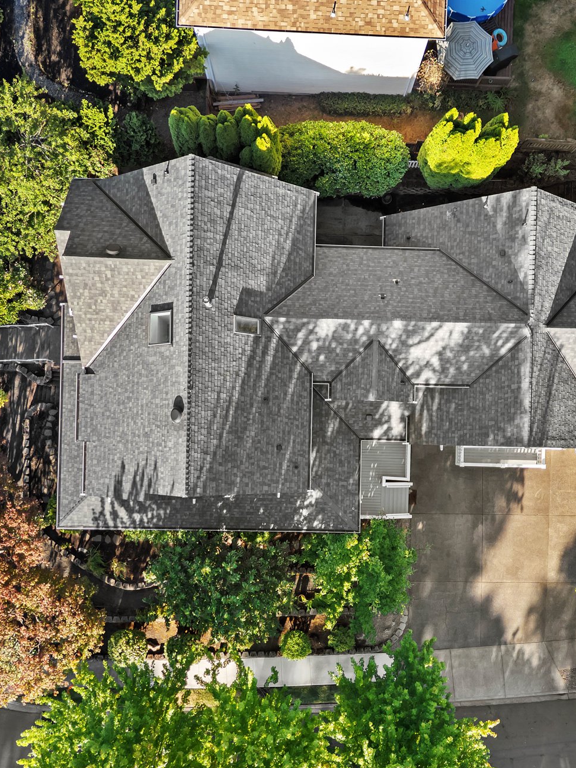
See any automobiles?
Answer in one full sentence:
No, I can see no automobile in this picture.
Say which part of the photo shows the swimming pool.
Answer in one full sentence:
The swimming pool is in the top right part of the image.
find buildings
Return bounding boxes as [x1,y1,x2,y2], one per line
[172,0,451,97]
[52,154,576,538]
